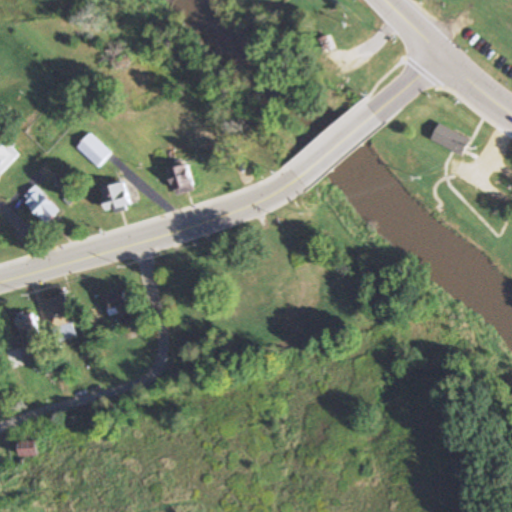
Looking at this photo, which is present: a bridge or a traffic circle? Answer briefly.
bridge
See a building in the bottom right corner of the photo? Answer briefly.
No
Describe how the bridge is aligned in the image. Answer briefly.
at an angle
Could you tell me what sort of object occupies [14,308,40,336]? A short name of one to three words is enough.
house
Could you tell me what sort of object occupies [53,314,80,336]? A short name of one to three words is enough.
house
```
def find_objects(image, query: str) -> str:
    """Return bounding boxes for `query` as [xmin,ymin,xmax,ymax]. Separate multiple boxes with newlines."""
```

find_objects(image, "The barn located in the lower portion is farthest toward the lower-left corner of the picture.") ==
[16,439,39,454]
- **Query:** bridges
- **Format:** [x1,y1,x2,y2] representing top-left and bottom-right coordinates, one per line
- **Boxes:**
[284,98,384,195]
